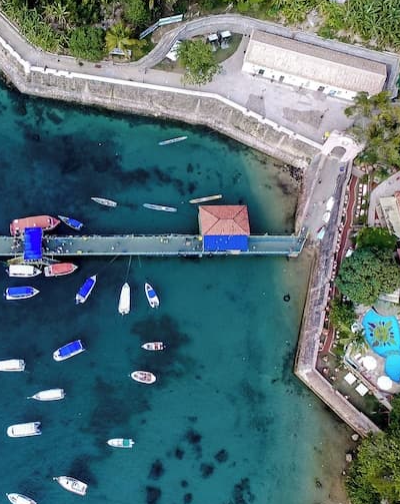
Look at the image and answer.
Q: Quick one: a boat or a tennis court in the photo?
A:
boat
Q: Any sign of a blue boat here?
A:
Yes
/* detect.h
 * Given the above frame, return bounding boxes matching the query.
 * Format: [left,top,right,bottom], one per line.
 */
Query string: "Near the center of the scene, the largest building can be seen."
[197,205,250,253]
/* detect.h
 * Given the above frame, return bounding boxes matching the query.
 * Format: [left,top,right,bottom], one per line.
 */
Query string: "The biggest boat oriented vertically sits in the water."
[118,282,131,316]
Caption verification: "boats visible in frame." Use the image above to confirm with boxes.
[4,492,38,504]
[0,358,27,372]
[142,205,177,212]
[53,339,86,359]
[7,422,43,437]
[107,437,136,447]
[145,282,159,311]
[118,282,131,316]
[141,341,167,351]
[131,370,157,384]
[5,263,42,276]
[92,199,117,208]
[59,216,85,232]
[4,286,39,300]
[188,195,222,203]
[28,388,67,400]
[43,262,78,276]
[10,214,60,235]
[53,476,91,495]
[159,138,186,146]
[73,274,98,306]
